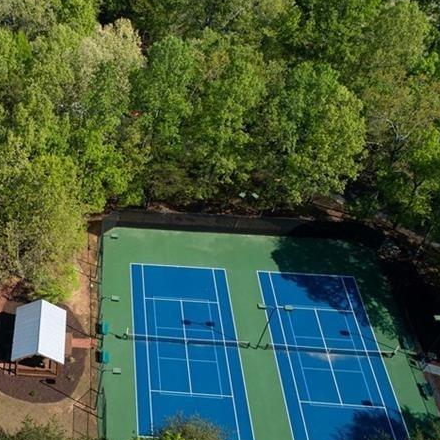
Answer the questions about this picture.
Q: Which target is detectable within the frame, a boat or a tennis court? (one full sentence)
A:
Visible in the photo is a tennis court.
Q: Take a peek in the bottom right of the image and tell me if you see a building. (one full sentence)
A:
No, looking in the bottom right of the image, there is no building.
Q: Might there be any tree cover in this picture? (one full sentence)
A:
Yes, tree cover can be seen from above here.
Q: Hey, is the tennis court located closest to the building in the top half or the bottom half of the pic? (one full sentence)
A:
You can find the tennis court located closest to the building in the bottom half.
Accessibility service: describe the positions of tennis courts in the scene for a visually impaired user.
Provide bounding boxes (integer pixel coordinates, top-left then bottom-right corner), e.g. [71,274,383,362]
[234,234,440,440]
[101,229,273,440]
